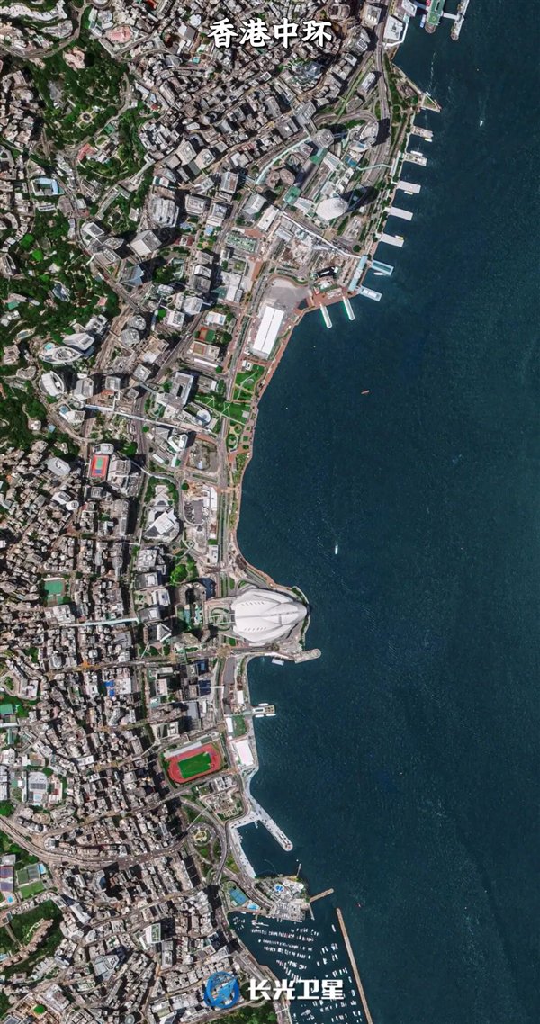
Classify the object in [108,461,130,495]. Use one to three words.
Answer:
building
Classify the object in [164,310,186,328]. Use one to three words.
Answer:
building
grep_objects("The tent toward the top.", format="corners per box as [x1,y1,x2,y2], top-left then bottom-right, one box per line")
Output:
[252,306,285,355]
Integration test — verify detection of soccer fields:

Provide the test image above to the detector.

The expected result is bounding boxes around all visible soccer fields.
[175,752,210,779]
[43,577,64,596]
